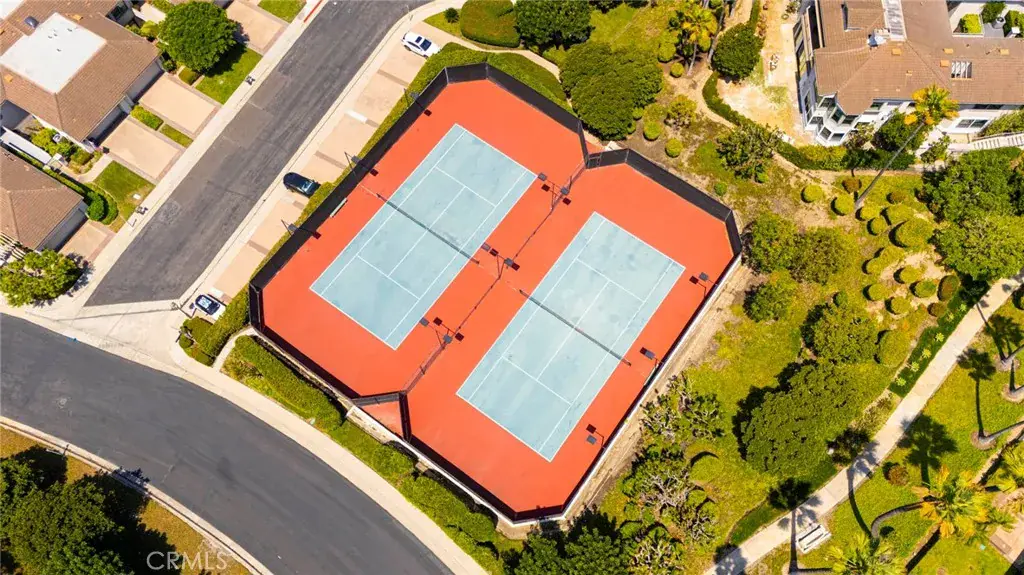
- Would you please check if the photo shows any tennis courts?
Yes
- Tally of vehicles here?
3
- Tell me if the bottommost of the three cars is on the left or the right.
left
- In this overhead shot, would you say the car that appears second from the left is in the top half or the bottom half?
top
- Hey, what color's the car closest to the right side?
white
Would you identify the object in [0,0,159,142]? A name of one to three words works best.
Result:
house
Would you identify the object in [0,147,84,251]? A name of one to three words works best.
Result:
house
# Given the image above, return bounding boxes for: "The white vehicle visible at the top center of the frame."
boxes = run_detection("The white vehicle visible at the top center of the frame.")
[399,30,441,60]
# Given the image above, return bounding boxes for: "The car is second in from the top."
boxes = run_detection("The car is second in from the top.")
[280,170,320,197]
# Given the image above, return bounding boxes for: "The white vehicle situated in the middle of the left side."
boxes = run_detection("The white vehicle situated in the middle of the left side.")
[190,289,227,318]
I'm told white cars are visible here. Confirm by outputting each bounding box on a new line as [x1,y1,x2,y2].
[190,289,227,318]
[399,30,441,60]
